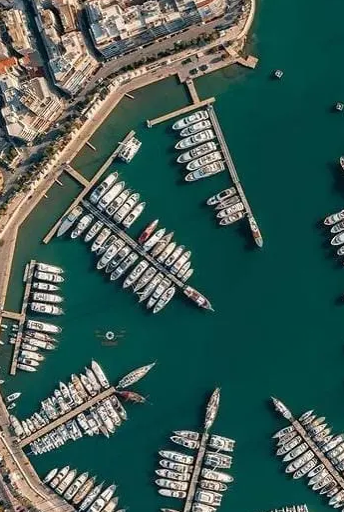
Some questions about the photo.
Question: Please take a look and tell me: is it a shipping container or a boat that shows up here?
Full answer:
I can see a boat in this picture.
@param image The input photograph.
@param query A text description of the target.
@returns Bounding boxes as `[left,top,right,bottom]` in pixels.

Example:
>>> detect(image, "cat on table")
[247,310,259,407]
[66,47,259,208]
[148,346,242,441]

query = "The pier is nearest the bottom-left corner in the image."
[18,387,116,448]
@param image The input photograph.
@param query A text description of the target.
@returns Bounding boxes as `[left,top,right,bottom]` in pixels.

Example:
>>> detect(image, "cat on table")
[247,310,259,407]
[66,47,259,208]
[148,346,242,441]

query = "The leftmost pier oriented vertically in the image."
[10,260,36,375]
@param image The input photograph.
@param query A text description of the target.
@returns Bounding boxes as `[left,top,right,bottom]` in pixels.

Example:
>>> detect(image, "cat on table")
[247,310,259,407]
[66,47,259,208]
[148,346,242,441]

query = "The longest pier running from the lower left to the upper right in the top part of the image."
[43,133,133,244]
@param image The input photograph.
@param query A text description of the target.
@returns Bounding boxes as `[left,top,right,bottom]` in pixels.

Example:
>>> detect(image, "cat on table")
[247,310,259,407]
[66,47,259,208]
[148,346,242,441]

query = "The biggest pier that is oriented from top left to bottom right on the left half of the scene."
[80,198,187,290]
